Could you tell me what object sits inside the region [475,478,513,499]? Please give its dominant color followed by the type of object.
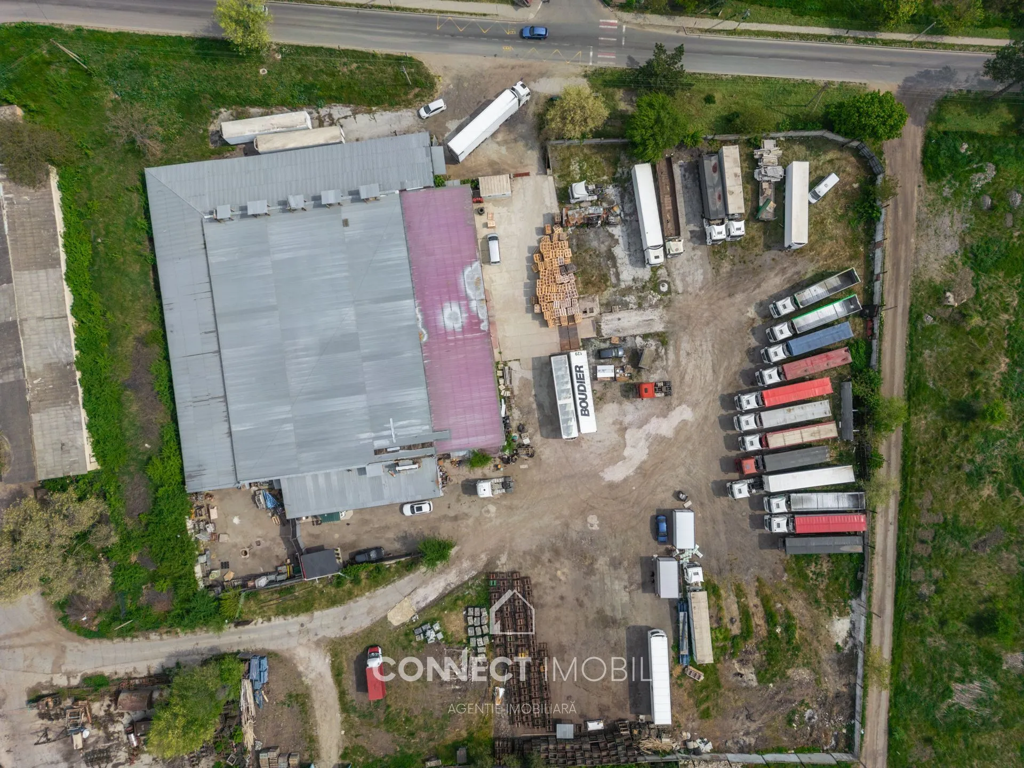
white truck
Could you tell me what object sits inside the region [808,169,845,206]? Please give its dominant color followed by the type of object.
white van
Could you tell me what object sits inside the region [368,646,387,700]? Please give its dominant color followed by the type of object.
red vehicle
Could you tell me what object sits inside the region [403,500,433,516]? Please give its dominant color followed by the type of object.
white car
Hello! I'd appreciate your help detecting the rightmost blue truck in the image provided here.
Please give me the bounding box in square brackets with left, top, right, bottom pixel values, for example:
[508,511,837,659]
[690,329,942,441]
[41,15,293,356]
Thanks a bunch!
[758,321,854,365]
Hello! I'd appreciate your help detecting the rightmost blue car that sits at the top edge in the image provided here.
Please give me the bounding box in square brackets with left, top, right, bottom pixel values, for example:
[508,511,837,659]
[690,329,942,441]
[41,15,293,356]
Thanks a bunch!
[520,27,548,41]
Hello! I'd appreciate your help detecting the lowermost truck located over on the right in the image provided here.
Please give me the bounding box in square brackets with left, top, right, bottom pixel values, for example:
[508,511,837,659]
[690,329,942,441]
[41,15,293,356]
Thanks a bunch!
[647,623,671,725]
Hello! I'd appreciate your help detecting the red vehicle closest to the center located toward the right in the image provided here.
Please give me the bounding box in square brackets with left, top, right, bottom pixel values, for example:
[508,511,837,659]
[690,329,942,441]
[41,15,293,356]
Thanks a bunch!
[636,380,672,400]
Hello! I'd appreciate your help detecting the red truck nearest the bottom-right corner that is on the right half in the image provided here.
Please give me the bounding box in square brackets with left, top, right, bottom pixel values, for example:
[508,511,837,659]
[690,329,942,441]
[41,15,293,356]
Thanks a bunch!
[762,511,868,534]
